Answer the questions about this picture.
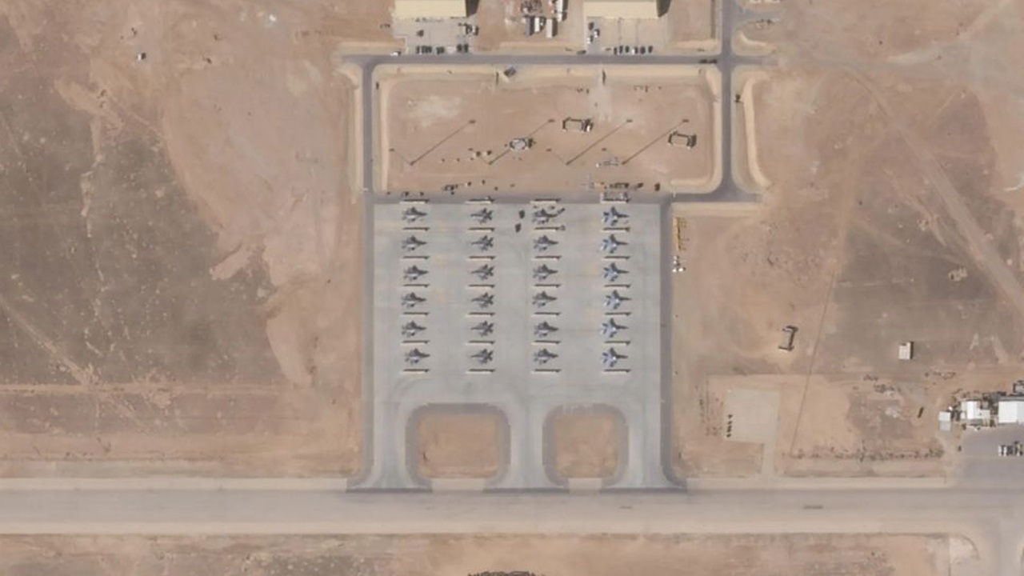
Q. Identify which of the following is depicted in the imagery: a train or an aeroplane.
aeroplane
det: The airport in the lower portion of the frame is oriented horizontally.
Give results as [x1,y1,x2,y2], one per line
[0,192,1024,576]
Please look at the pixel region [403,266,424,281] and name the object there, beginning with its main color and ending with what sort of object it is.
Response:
gray airplane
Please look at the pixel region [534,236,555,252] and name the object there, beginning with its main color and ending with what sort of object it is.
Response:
gray airplane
